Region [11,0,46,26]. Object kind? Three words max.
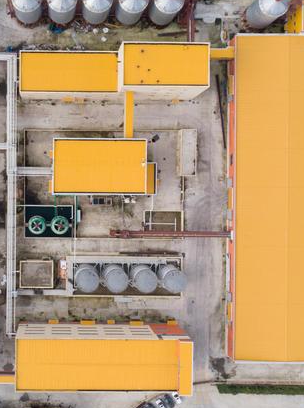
silo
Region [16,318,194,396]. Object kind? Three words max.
building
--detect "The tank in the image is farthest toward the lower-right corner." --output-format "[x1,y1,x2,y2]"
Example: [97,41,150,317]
[154,264,186,292]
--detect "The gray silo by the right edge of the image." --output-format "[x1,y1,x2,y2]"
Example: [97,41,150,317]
[246,0,291,31]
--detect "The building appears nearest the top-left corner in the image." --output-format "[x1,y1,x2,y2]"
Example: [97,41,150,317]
[19,51,121,101]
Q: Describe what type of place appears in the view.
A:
industrial area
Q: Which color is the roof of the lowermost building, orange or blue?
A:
orange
